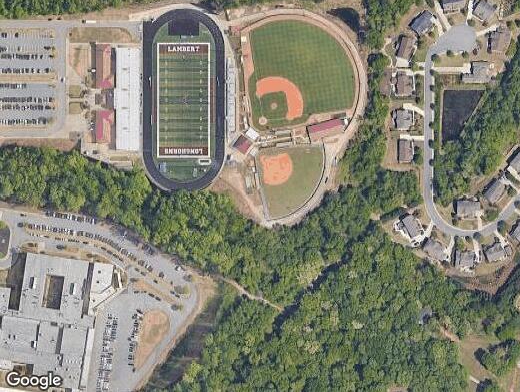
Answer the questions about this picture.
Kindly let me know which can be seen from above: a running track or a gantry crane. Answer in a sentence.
I can see a running track in this picture.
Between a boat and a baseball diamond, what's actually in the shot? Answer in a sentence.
I can see a baseball diamond in this picture.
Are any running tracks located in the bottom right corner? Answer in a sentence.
No, in the bottom right corner there is no running track.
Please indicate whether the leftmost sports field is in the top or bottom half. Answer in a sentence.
Seen from above, the leftmost sports field lies in the top half of the view.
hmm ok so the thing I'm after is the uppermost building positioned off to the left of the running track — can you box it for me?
[95,44,110,89]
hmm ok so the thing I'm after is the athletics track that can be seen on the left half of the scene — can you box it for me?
[141,10,228,193]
